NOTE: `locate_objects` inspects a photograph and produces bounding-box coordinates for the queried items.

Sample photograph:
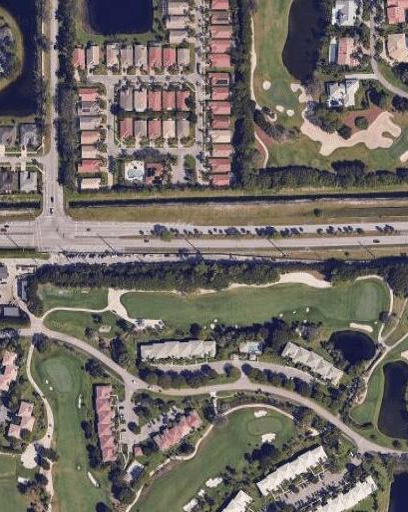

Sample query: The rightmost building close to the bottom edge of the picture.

[309,479,378,512]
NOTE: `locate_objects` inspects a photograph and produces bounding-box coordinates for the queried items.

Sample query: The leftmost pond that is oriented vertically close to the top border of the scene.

[282,0,333,86]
